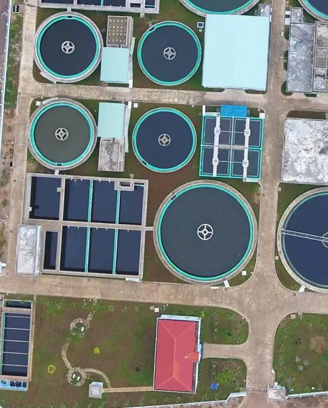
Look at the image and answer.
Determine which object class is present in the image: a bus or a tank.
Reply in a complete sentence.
There is a tank in the scene.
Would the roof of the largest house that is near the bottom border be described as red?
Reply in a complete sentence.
Yes, the roof of the largest house that is near the bottom border is indeed red.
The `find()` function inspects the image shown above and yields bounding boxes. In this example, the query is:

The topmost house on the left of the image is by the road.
[100,37,136,83]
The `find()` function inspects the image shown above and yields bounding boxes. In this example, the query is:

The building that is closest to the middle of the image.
[97,103,130,150]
